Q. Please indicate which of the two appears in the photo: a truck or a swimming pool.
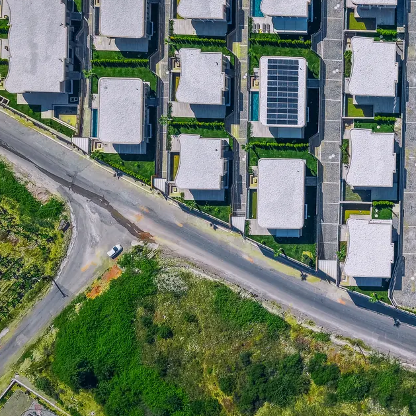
swimming pool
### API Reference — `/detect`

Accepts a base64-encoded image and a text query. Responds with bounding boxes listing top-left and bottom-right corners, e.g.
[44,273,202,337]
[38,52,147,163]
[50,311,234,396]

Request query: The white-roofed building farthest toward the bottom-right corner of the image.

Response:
[344,218,394,279]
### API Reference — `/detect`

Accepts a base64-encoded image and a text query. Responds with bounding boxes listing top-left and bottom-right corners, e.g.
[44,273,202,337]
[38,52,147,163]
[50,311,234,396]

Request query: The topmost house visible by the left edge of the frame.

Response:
[5,0,77,92]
